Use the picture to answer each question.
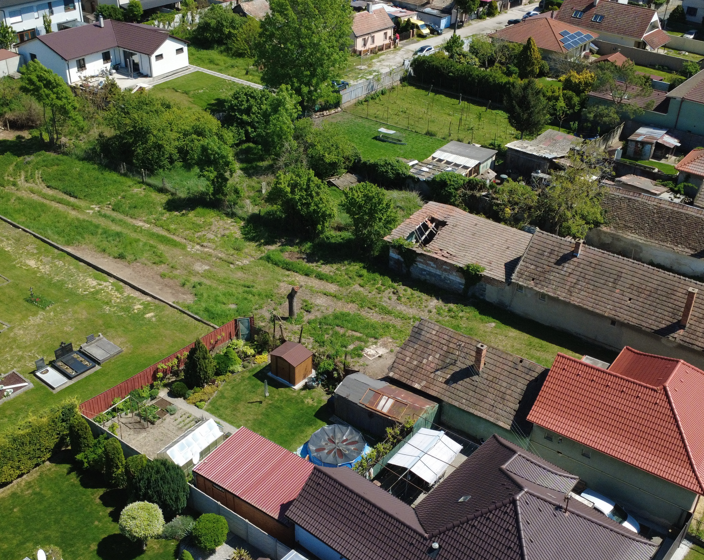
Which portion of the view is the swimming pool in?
bottom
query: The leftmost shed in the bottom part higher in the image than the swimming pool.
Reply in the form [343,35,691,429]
[266,342,321,395]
